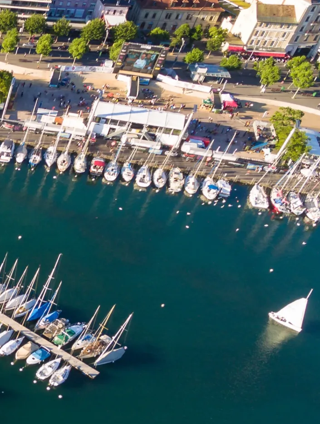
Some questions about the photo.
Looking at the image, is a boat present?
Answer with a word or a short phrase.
Yes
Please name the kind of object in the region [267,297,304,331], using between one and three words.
boat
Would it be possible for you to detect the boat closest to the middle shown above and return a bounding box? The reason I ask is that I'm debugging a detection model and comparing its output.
[168,174,184,197]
